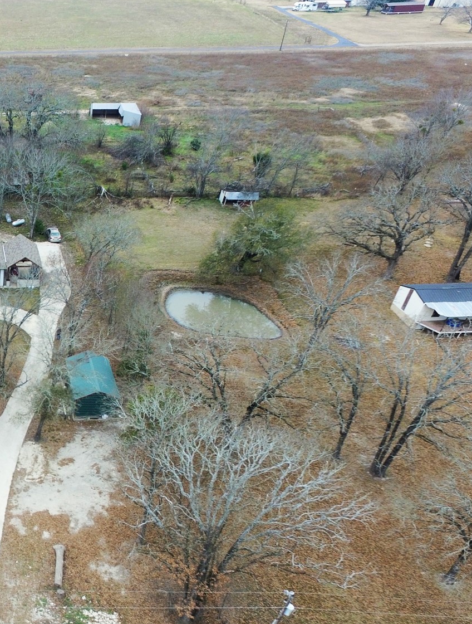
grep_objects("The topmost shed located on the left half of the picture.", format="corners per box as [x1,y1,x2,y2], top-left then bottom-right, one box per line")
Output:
[88,96,153,124]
